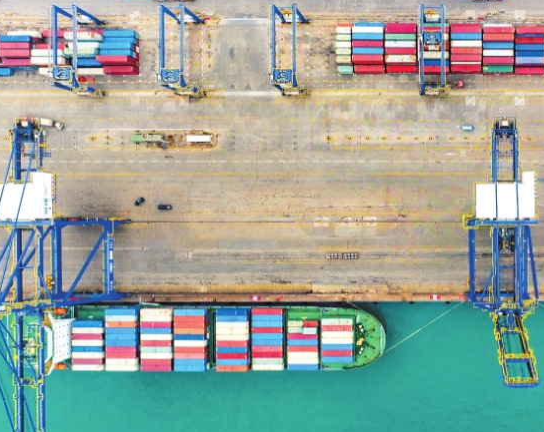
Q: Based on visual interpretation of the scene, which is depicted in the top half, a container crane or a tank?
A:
container crane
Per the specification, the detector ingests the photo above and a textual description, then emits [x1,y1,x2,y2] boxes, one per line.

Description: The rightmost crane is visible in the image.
[461,121,538,390]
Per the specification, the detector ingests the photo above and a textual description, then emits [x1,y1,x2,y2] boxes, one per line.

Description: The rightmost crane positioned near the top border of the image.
[414,4,454,96]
